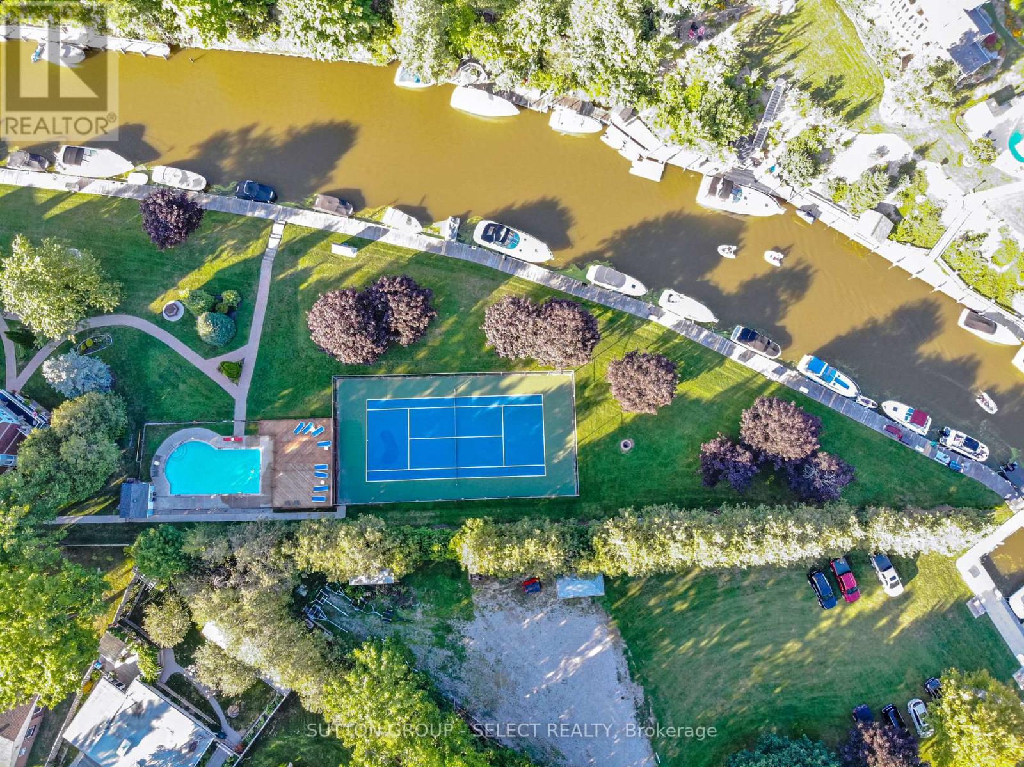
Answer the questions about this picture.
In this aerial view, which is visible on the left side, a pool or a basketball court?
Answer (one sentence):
Visible on the left side is a pool.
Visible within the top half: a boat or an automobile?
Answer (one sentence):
What appears within the top half is a boat.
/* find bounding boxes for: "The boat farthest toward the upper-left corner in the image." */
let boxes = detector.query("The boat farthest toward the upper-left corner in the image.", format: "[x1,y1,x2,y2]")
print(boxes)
[39,44,87,66]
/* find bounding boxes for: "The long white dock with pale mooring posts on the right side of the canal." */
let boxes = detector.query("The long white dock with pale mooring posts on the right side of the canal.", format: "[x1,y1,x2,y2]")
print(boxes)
[782,183,1024,341]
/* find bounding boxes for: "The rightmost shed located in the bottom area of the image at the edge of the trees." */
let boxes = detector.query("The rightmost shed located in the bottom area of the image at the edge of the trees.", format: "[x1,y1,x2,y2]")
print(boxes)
[555,572,604,599]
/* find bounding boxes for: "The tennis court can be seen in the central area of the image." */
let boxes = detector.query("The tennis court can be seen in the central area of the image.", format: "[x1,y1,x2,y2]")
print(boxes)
[337,374,576,503]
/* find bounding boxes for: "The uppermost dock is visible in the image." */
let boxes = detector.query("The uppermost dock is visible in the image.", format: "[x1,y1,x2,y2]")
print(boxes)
[0,27,171,59]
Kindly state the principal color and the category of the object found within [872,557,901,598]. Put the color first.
white truck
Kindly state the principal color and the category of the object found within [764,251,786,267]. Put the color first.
white boat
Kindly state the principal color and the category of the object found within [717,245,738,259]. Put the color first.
white boat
